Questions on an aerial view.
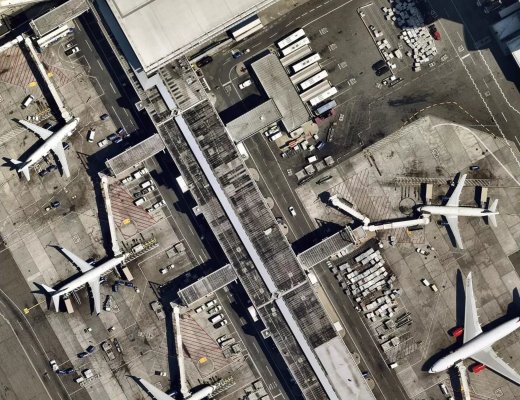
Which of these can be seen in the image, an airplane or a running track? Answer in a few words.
airplane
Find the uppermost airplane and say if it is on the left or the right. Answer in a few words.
left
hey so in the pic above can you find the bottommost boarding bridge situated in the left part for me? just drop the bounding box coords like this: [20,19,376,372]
[173,305,191,398]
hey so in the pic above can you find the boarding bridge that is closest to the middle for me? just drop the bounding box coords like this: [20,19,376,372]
[329,195,370,226]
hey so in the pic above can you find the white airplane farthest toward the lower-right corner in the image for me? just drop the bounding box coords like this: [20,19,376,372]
[430,271,520,380]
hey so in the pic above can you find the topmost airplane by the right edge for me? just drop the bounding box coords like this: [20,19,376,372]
[419,173,500,249]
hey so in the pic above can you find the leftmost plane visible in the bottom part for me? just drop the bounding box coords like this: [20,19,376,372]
[48,249,131,316]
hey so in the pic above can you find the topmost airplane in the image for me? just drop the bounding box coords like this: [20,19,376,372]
[11,118,79,180]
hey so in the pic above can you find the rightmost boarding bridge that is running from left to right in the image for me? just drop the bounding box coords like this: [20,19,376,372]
[360,213,431,232]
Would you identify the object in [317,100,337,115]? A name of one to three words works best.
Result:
vehicle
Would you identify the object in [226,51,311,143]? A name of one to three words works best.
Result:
building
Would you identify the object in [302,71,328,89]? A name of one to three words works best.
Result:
vehicle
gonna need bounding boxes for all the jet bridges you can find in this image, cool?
[457,359,472,400]
[173,305,191,398]
[360,213,431,232]
[329,195,370,226]
[23,36,75,119]
[99,175,121,258]
[0,34,24,52]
